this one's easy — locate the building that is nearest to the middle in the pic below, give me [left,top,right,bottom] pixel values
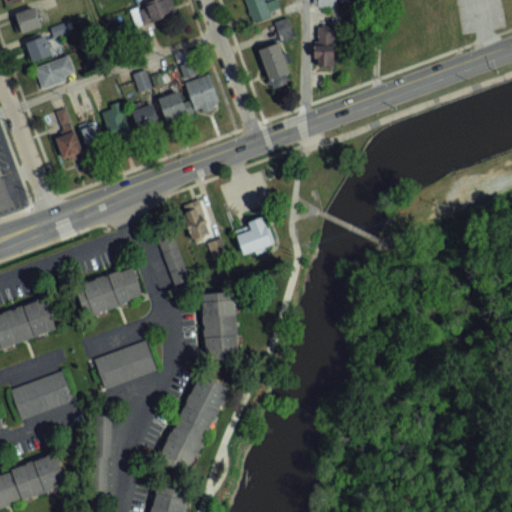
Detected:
[236,218,275,254]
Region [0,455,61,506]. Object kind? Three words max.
building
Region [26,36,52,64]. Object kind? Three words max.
house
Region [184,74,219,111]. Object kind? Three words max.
house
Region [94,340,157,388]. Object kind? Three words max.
building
